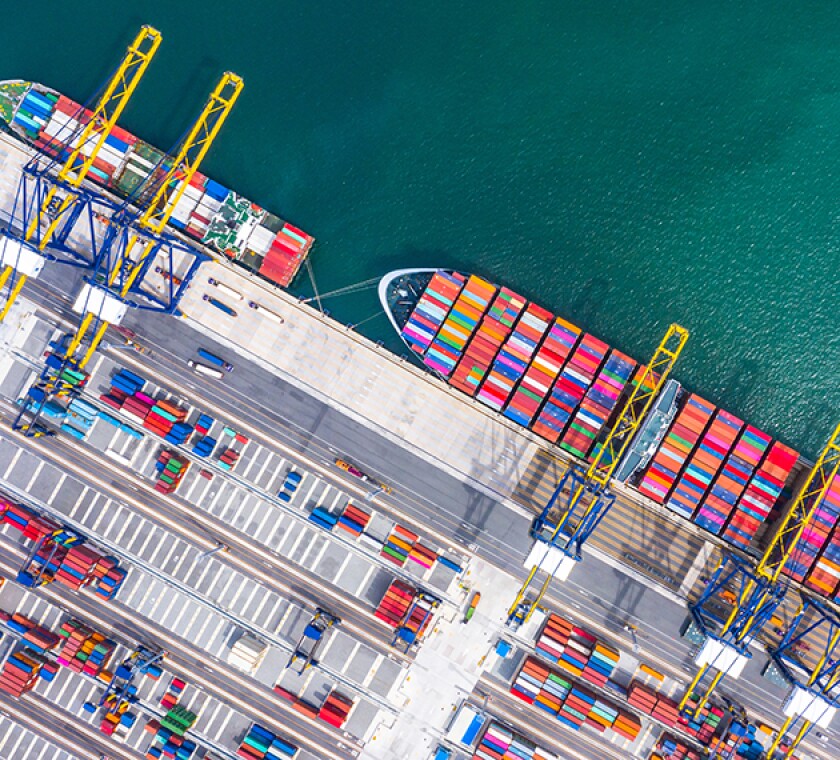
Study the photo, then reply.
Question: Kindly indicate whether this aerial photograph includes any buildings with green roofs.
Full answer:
No, there isn't any building with a green roof down there.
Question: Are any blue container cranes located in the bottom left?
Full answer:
Yes, I can see a blue container crane in the bottom left.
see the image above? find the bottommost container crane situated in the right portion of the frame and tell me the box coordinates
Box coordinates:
[701,701,754,760]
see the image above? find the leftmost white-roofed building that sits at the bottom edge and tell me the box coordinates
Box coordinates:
[447,702,486,749]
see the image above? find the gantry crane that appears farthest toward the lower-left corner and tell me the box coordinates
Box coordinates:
[94,645,161,715]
